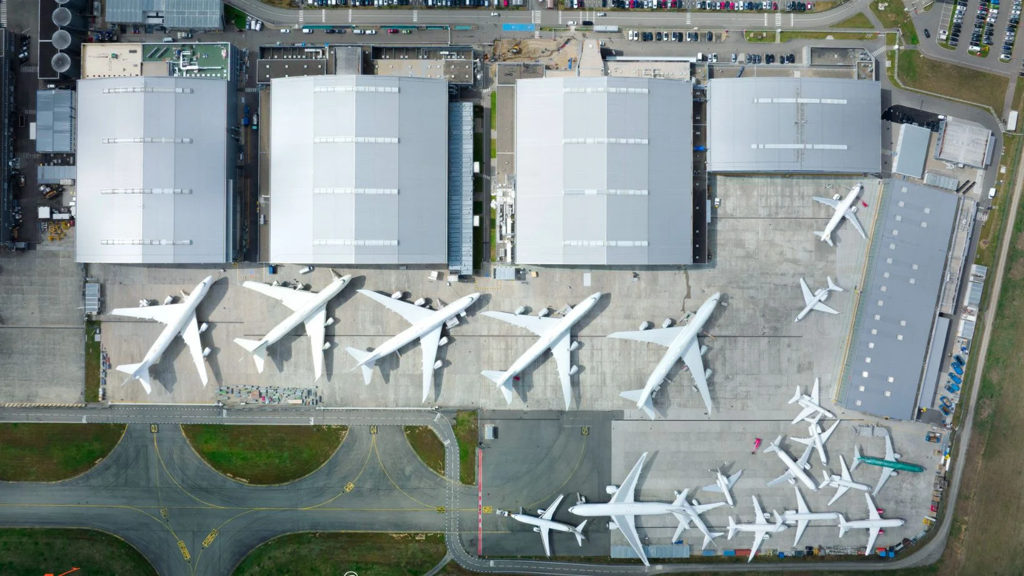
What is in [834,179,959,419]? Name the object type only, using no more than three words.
hangar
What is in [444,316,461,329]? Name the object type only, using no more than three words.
vehicle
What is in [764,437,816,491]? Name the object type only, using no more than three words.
airplane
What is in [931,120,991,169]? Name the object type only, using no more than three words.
building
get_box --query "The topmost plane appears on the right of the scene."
[812,183,867,247]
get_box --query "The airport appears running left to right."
[0,174,954,576]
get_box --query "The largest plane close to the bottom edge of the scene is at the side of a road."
[568,455,692,569]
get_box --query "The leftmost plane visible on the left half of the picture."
[105,276,212,394]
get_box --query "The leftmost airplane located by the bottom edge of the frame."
[511,498,585,563]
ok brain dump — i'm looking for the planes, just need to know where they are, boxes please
[232,274,351,378]
[568,455,692,569]
[673,490,725,546]
[795,418,842,465]
[728,497,788,562]
[853,431,924,496]
[824,459,870,506]
[511,498,585,563]
[605,292,720,423]
[790,379,836,424]
[838,494,905,557]
[812,183,867,247]
[703,468,741,508]
[342,289,480,405]
[794,277,841,322]
[764,437,816,491]
[105,276,212,394]
[776,490,841,546]
[478,292,601,412]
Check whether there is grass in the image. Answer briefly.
Yes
